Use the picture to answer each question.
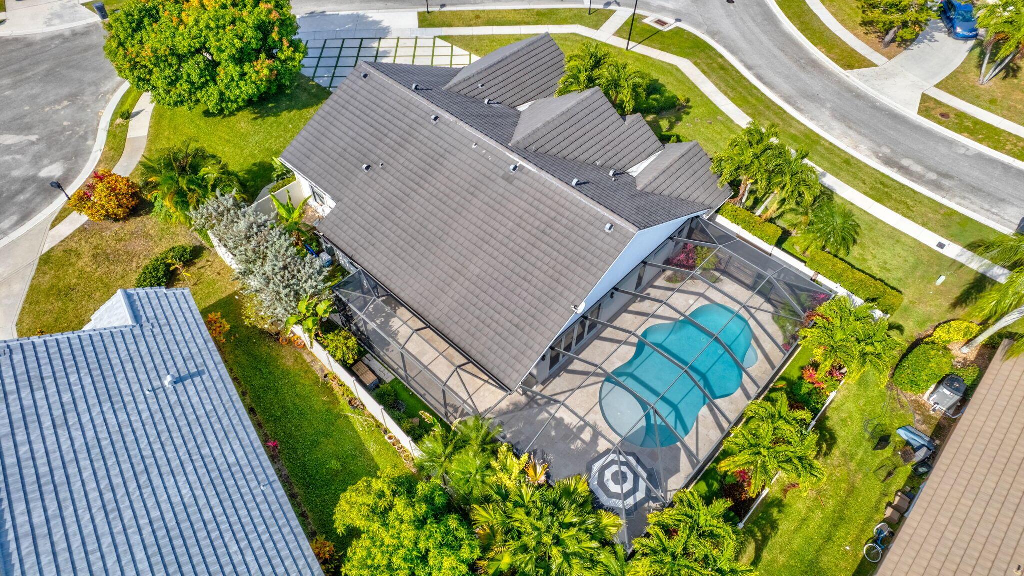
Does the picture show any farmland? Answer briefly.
No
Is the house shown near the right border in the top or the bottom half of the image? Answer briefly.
bottom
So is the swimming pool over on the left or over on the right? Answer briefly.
right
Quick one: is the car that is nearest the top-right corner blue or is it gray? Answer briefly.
blue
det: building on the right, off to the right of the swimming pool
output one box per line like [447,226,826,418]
[877,344,1024,576]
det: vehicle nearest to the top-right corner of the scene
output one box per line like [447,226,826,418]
[947,0,983,35]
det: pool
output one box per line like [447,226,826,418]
[593,298,764,454]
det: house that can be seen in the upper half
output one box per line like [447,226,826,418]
[278,30,735,408]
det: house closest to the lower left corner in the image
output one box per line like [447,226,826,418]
[0,283,326,576]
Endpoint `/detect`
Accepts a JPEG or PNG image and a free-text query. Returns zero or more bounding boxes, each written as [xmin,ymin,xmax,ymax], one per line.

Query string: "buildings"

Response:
[0,283,326,576]
[278,30,735,408]
[877,344,1024,576]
